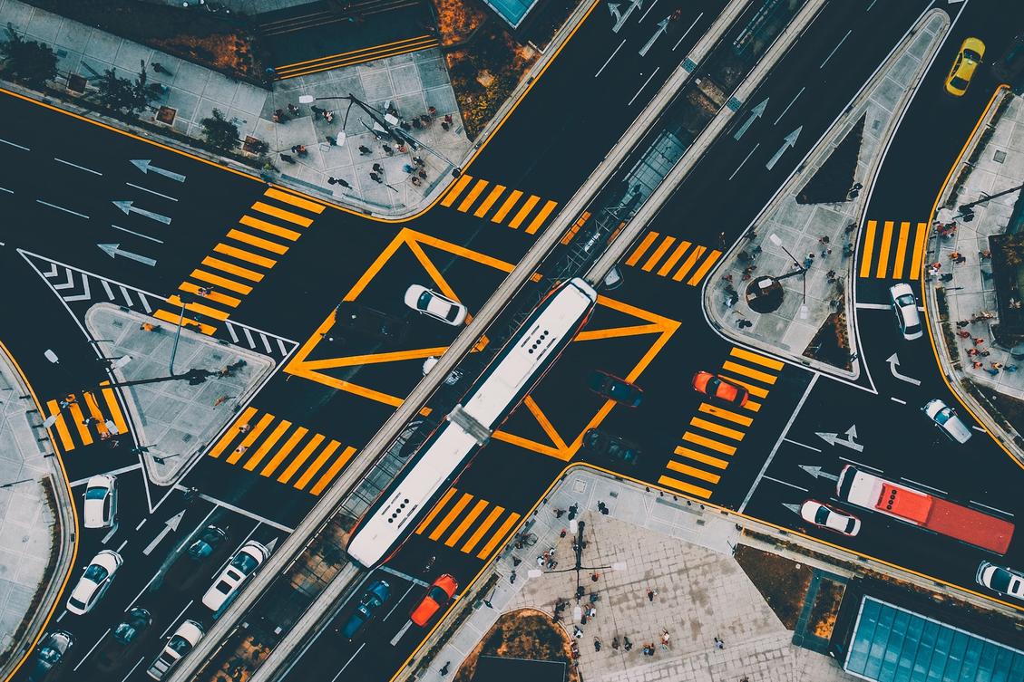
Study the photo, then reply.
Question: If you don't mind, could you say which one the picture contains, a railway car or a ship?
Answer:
railway car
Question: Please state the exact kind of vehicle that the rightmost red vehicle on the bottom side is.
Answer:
bus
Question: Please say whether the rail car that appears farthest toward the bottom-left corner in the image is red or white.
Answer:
white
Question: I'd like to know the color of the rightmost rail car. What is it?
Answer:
white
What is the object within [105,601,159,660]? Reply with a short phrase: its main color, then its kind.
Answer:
black car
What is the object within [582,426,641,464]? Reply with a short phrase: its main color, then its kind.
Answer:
black car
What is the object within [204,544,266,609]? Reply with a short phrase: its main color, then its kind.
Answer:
white van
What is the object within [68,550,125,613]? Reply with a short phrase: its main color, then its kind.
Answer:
white car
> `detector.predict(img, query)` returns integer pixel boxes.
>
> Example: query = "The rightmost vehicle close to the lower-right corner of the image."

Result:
[974,560,1024,600]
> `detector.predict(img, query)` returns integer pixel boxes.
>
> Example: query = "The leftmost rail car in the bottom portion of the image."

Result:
[346,415,494,572]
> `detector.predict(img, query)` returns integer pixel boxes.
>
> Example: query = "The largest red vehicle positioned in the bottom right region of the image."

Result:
[839,471,1017,559]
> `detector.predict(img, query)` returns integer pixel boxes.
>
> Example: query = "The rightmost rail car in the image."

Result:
[458,280,600,437]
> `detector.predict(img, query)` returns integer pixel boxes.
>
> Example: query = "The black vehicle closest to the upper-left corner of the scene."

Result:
[338,300,406,342]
